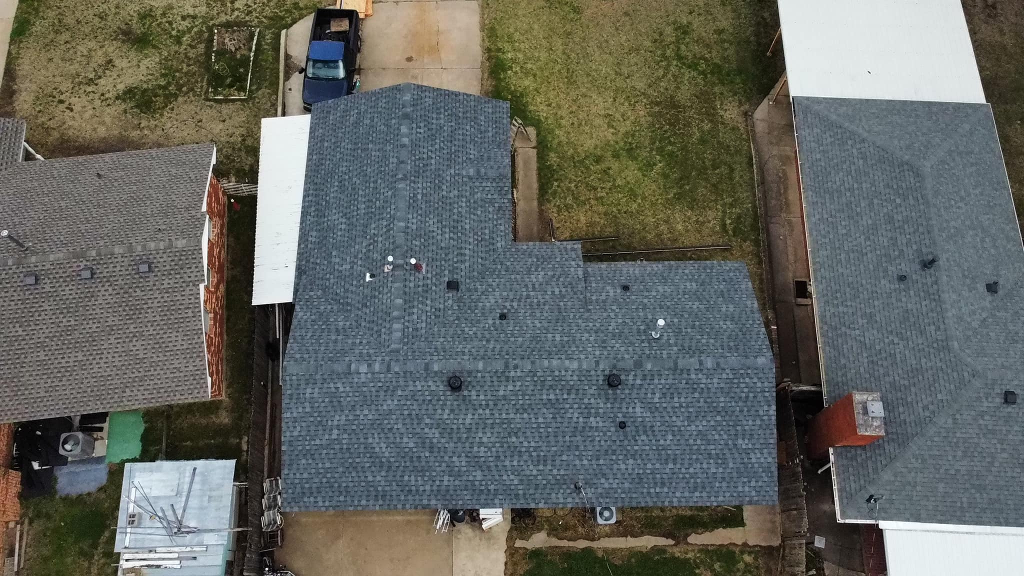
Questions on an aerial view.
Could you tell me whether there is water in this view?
No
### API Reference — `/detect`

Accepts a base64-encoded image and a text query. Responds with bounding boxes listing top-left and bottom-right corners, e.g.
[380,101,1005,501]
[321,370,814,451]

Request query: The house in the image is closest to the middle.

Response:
[280,83,779,512]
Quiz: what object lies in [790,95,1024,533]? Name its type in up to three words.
house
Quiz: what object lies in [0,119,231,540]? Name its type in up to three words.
house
